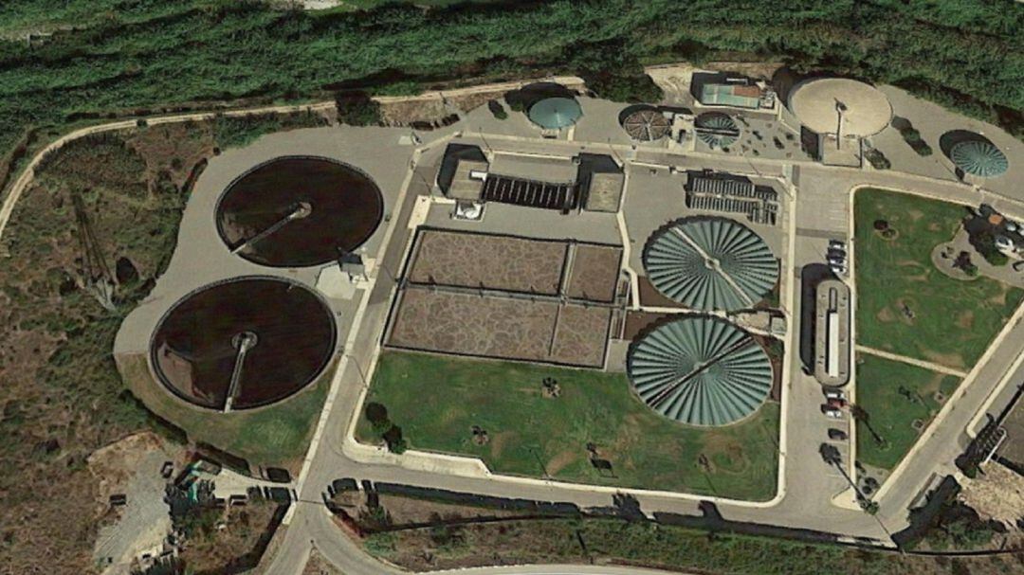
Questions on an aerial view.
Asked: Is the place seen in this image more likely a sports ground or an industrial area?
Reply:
industrial area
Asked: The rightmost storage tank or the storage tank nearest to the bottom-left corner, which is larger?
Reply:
the storage tank nearest to the bottom-left corner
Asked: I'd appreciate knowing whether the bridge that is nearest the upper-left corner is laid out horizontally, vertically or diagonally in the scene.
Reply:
diagonally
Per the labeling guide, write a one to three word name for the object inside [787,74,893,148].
storage tank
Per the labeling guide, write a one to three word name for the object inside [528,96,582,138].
storage tank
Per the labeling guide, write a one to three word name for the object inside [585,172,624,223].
building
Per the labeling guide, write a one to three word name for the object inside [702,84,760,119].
building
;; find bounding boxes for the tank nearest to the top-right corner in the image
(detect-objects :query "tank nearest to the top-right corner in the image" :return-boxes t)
[949,141,1009,186]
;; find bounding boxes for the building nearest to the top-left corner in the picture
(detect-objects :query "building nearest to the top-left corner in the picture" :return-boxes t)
[342,262,365,286]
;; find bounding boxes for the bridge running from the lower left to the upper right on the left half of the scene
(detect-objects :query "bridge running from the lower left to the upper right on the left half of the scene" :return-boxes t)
[231,198,307,253]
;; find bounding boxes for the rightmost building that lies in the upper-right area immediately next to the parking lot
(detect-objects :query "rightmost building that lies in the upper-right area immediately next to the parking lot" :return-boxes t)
[820,135,862,177]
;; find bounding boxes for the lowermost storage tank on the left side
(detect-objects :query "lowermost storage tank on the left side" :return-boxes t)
[149,273,338,415]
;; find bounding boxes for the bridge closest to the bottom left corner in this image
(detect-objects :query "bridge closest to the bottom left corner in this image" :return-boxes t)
[224,330,248,414]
